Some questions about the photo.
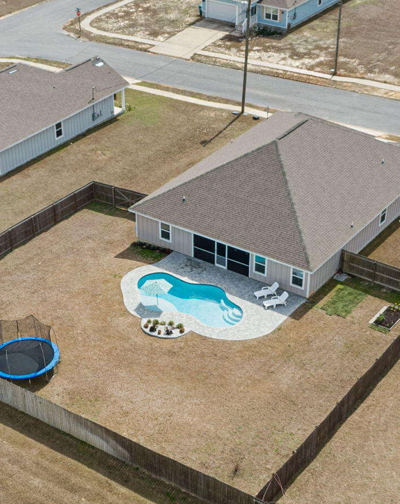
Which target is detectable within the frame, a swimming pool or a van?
swimming pool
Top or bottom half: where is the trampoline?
bottom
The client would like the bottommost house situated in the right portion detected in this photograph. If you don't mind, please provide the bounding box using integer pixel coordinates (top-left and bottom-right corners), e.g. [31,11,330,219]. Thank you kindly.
[128,111,400,299]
